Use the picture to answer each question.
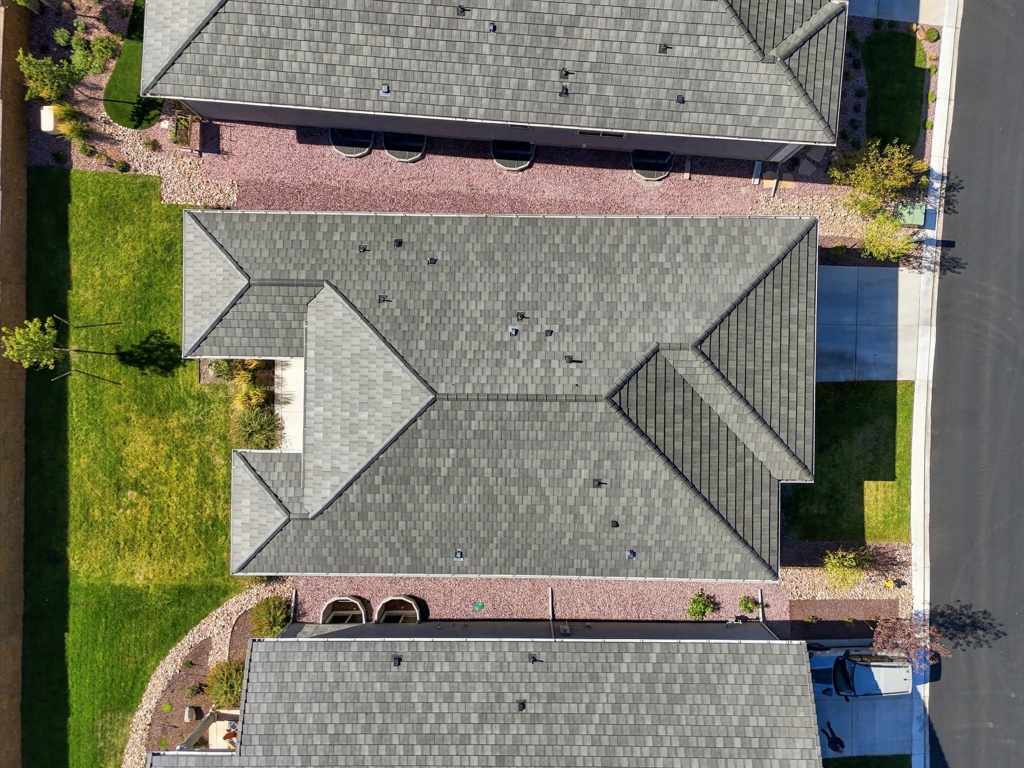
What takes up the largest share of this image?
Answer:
buildings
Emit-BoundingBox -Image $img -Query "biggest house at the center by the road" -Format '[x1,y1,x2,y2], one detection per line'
[182,210,818,582]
